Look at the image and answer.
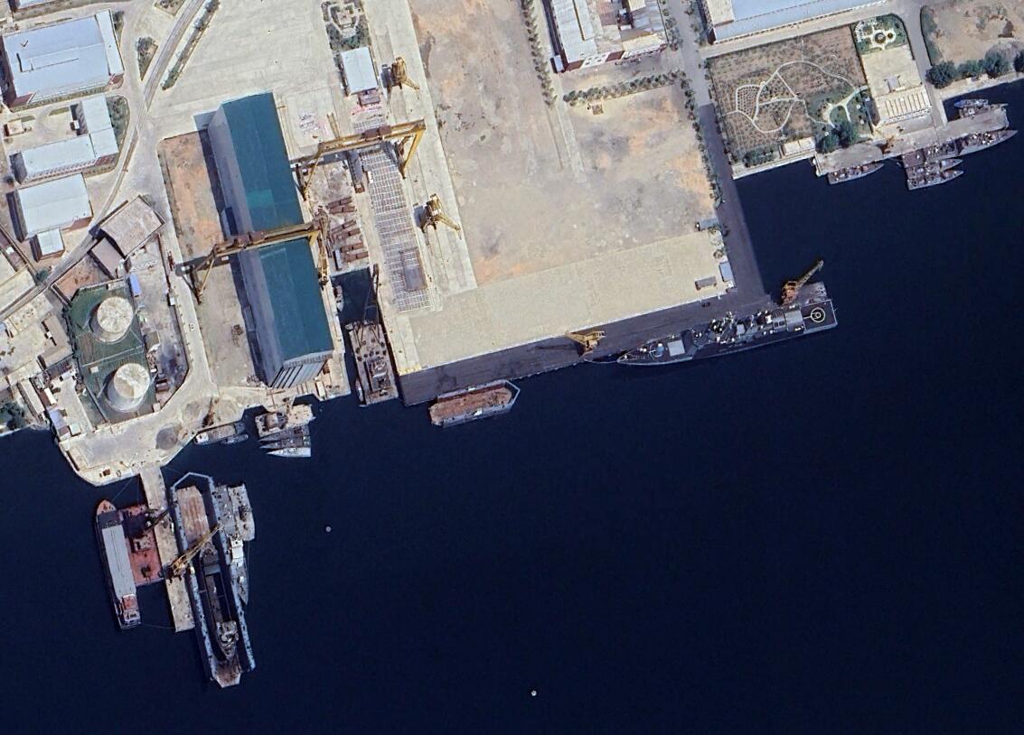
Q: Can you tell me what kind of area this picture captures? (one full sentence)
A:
The picture captures a port.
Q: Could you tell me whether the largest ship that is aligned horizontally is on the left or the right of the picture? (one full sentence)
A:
It is on the right.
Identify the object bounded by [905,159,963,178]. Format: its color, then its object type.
gray ship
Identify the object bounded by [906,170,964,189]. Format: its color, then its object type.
gray ship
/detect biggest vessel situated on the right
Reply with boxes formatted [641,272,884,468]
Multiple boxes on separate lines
[619,301,838,364]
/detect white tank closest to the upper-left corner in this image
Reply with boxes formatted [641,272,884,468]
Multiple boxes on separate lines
[87,301,134,350]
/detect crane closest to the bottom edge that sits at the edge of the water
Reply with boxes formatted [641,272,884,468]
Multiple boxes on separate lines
[166,526,221,588]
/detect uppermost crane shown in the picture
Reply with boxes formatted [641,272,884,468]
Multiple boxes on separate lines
[388,61,421,95]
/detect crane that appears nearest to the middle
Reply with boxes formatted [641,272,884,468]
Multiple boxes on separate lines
[560,330,604,362]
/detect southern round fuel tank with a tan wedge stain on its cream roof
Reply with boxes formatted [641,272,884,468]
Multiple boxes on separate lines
[103,364,150,413]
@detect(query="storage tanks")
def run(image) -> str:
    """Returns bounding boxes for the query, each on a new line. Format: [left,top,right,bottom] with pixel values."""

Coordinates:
[103,364,150,413]
[87,301,134,350]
